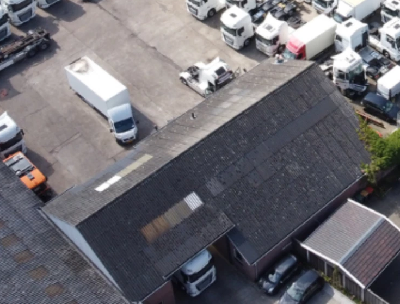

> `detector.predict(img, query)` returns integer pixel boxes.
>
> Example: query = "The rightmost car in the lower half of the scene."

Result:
[280,267,329,304]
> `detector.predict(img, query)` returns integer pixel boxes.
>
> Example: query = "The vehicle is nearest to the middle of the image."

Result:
[179,54,236,97]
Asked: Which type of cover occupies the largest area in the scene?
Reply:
buildings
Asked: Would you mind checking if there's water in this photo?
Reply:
No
